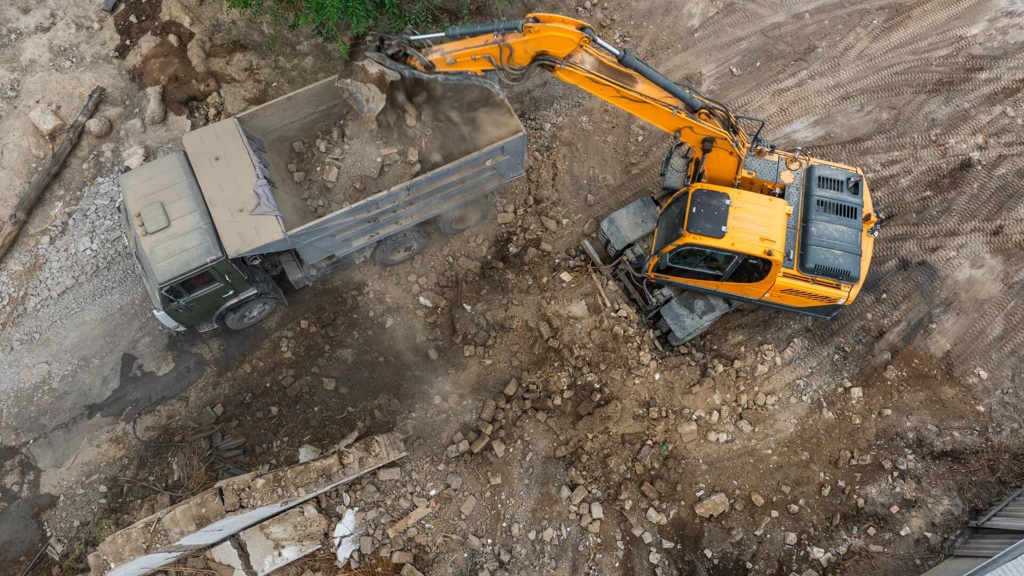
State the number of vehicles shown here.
2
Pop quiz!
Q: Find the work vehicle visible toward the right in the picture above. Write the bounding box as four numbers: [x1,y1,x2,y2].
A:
[340,4,895,351]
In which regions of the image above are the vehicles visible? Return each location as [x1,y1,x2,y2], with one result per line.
[108,69,526,346]
[340,4,895,351]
